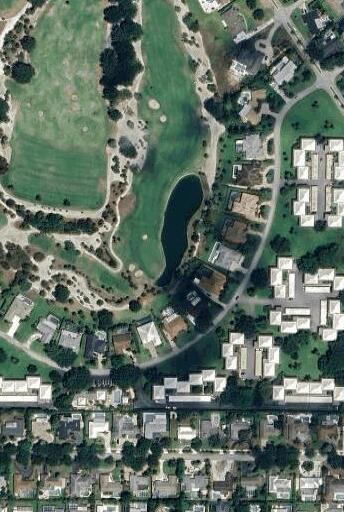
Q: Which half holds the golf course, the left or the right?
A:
left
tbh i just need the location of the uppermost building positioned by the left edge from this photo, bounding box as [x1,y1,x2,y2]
[3,292,37,328]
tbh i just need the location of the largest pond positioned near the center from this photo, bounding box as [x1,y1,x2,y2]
[160,174,203,286]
